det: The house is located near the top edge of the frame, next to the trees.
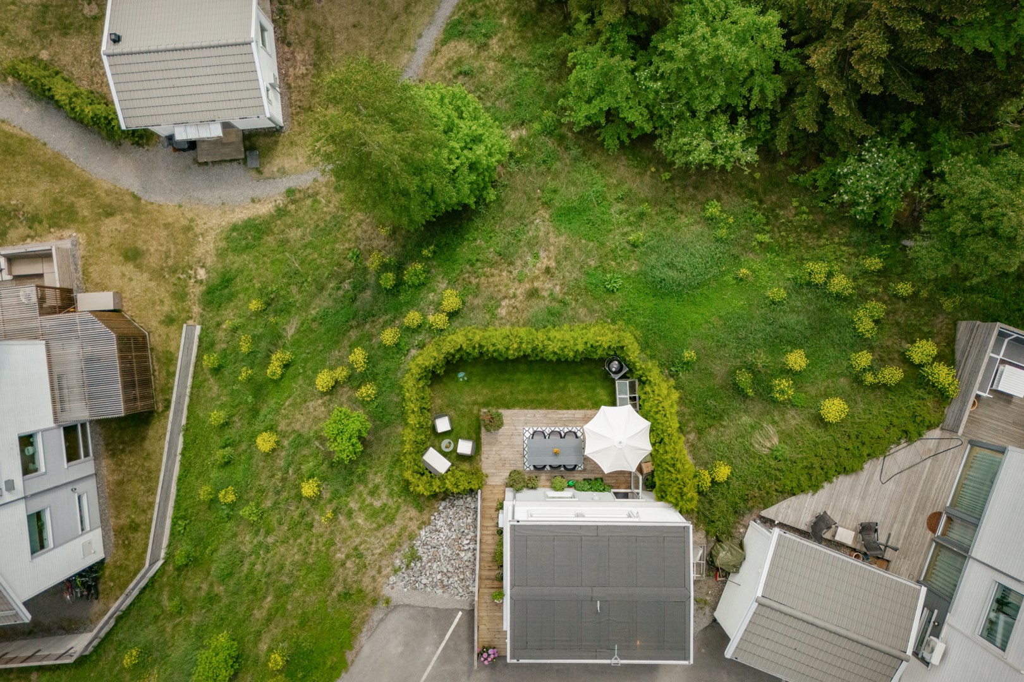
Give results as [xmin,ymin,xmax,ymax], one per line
[100,0,285,137]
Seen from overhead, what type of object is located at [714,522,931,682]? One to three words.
building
